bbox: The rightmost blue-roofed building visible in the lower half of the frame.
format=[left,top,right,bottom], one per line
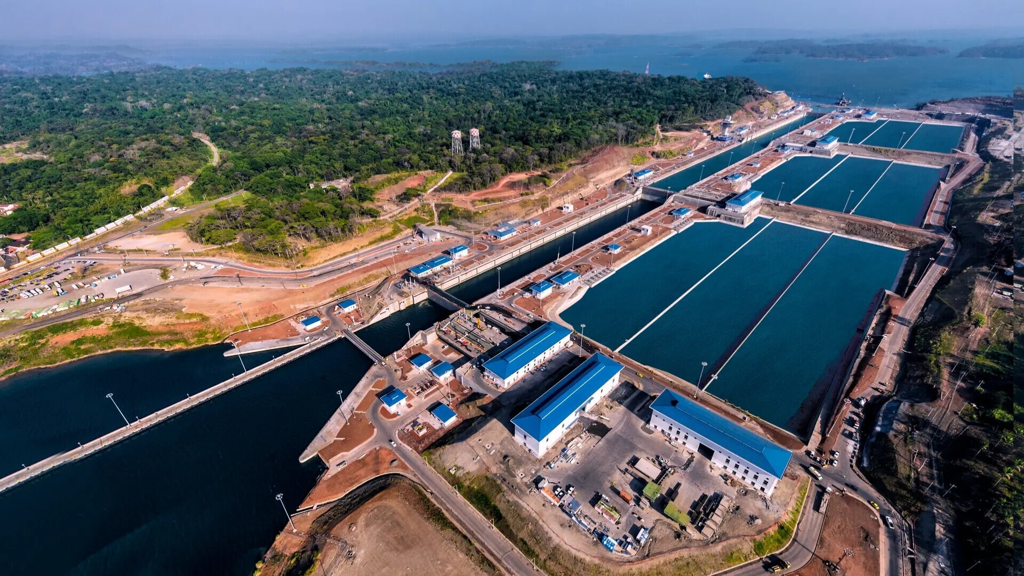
[649,388,793,489]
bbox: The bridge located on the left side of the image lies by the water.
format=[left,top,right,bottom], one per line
[340,327,390,364]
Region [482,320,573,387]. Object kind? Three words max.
building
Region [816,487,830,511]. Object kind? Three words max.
vehicle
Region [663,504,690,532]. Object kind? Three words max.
building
